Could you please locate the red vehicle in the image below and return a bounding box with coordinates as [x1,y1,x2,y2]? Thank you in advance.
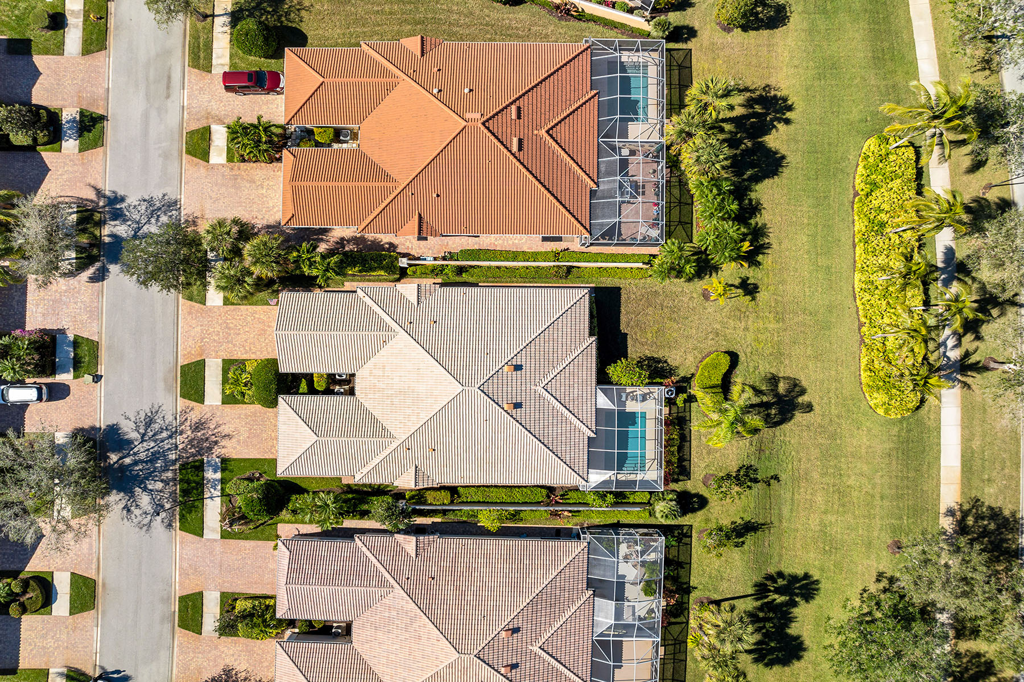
[228,70,283,99]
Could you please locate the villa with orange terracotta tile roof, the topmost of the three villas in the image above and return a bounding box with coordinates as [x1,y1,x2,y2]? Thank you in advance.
[281,35,599,237]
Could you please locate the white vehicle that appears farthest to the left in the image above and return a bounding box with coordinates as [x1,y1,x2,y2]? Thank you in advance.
[0,383,50,409]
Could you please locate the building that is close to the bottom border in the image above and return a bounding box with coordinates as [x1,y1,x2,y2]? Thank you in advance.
[276,534,598,682]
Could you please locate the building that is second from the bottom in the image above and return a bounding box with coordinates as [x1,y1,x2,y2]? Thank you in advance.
[271,284,596,489]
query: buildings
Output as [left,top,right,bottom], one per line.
[281,35,599,237]
[271,284,596,489]
[276,534,598,682]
